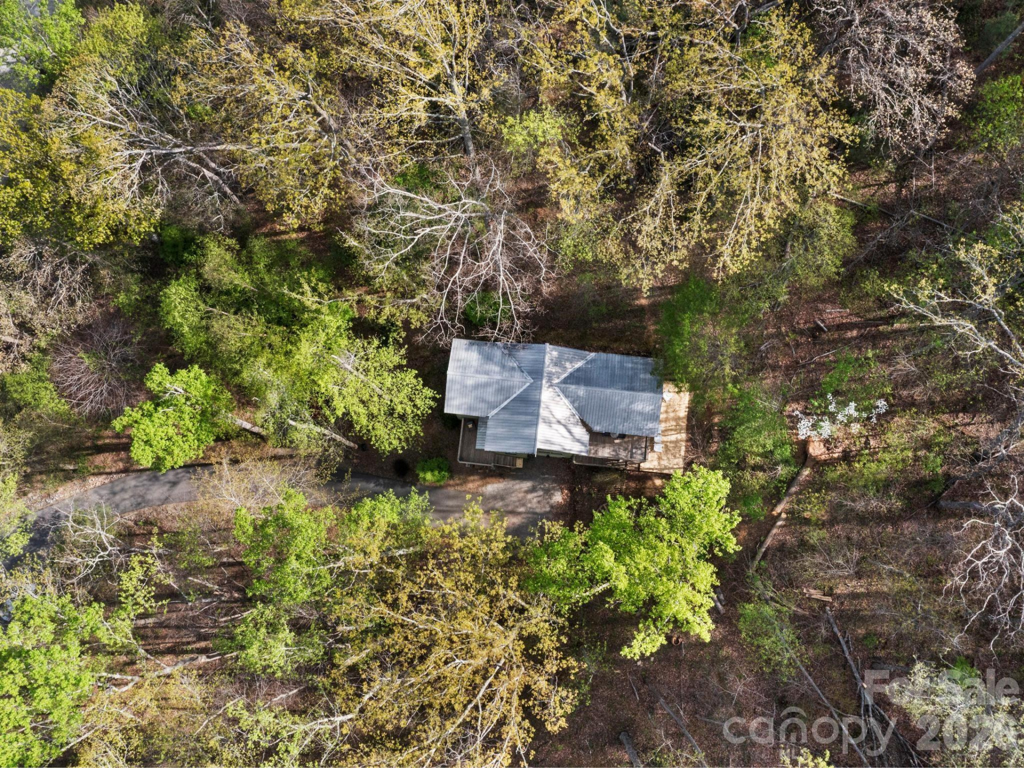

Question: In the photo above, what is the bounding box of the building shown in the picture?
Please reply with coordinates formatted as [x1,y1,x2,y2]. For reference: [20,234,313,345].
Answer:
[444,340,665,461]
